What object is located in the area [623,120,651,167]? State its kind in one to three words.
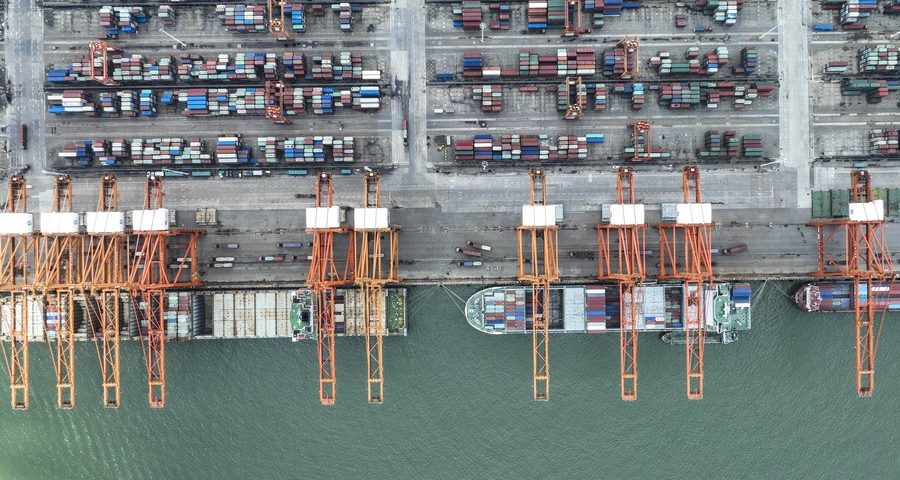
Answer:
container crane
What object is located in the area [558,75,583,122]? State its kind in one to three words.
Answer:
container crane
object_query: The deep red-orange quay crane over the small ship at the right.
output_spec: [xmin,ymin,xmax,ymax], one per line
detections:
[802,164,897,398]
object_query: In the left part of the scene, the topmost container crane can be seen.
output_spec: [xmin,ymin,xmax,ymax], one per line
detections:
[268,0,296,42]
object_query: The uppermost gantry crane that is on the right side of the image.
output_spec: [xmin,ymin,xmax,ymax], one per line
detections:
[556,0,582,40]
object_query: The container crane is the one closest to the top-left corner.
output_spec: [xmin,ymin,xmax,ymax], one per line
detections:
[89,40,126,91]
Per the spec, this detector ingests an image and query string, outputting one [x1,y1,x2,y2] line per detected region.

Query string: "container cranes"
[650,166,716,401]
[353,170,400,404]
[89,40,126,91]
[130,172,204,407]
[268,0,296,42]
[592,167,647,402]
[802,164,897,398]
[305,171,357,404]
[556,0,582,40]
[613,36,641,84]
[623,120,651,167]
[0,174,77,408]
[267,78,294,125]
[82,173,160,407]
[558,75,583,122]
[512,168,566,403]
[33,173,121,408]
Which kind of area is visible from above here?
port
